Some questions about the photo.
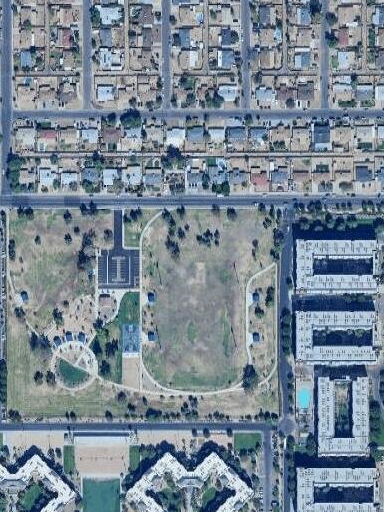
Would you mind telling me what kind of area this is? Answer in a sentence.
The area seen from above is a residential area.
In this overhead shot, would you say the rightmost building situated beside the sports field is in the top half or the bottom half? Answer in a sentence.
It is in the bottom half that the rightmost building situated beside the sports field appears.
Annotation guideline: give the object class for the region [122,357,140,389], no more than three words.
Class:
sports court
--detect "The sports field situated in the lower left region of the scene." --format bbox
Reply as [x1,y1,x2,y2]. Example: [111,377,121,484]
[81,474,122,512]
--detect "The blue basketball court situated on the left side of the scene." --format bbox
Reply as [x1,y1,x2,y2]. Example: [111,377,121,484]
[123,324,139,352]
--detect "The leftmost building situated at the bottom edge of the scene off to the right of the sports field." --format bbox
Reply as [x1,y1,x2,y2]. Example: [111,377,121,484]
[128,453,253,512]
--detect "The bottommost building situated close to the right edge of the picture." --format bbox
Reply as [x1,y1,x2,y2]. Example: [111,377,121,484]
[295,468,376,512]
